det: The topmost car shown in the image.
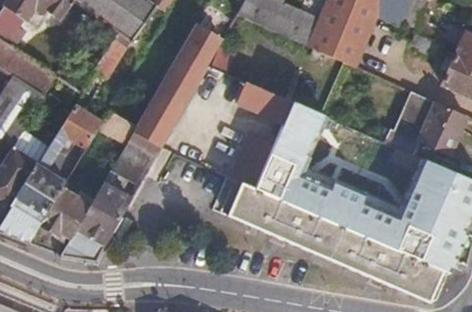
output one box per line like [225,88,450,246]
[380,36,394,56]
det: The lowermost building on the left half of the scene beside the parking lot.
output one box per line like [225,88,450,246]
[63,233,102,258]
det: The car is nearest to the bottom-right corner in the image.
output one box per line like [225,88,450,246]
[294,260,307,284]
